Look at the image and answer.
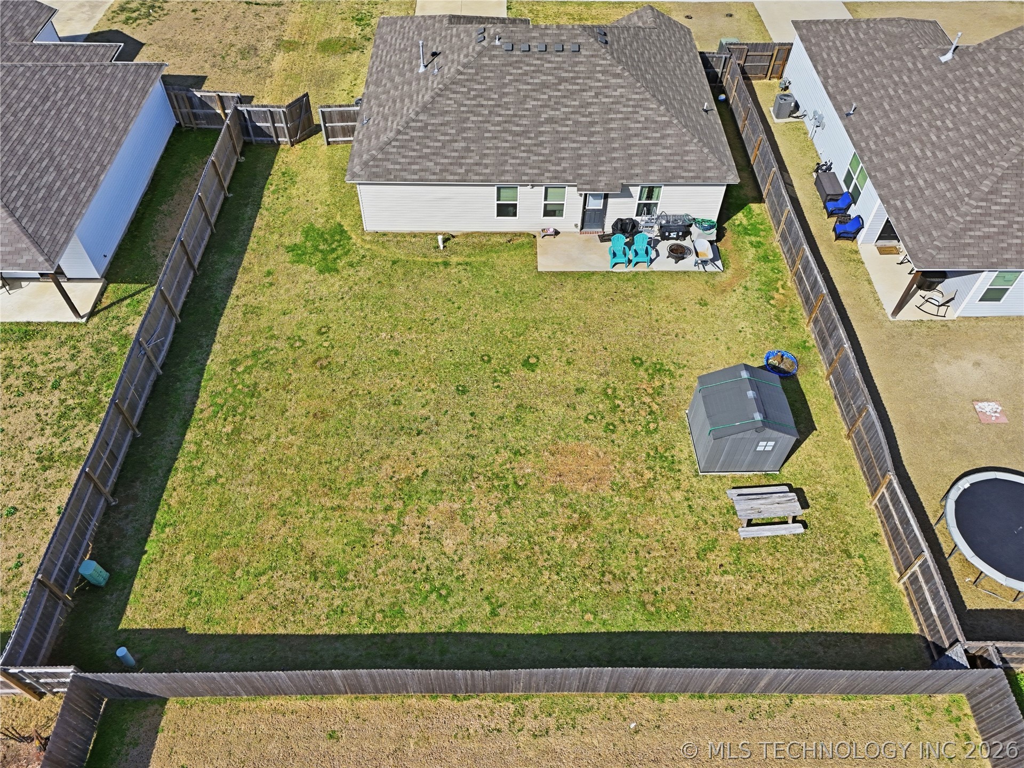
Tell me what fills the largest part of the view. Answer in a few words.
grass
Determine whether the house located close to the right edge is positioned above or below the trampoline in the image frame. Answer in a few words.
above it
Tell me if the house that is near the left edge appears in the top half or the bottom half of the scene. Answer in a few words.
top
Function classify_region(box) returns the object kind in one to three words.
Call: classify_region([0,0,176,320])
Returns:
house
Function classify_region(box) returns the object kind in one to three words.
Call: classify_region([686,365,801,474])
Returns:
shed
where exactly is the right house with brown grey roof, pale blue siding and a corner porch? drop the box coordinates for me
[787,13,1024,318]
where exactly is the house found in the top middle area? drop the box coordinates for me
[343,2,740,235]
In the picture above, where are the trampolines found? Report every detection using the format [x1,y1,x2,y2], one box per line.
[935,472,1024,604]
